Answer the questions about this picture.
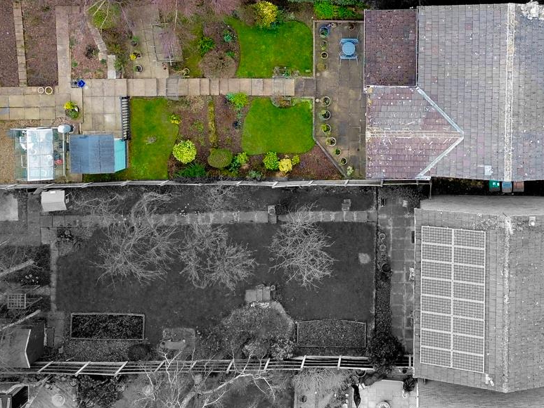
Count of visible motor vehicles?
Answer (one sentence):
The photo contains no motor vehicles.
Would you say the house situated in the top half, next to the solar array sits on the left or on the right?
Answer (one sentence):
You can find the house situated in the top half, next to the solar array on the right side of the picture.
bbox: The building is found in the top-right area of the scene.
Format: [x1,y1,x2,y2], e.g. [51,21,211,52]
[364,2,544,184]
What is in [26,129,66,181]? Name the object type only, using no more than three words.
greenhouse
